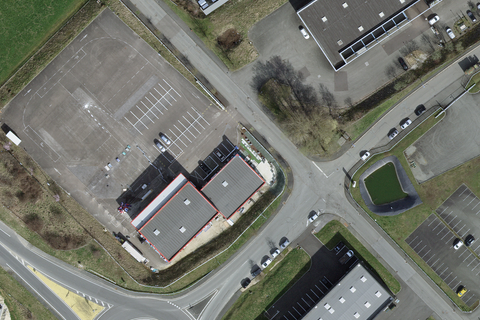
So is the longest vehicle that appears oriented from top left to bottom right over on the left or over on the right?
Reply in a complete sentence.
It is on the left.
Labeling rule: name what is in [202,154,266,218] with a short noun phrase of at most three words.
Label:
building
